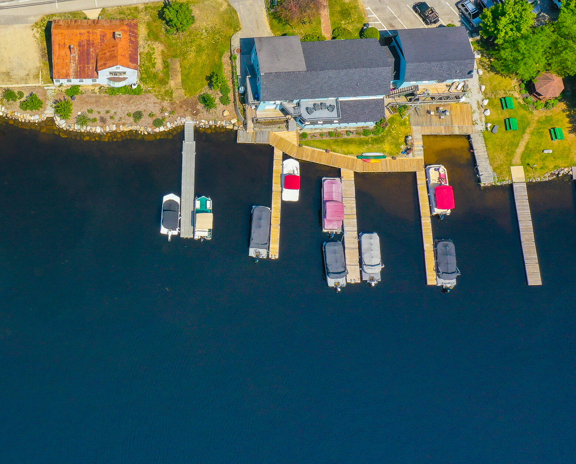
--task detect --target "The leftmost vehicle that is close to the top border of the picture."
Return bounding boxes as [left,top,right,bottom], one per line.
[409,0,437,25]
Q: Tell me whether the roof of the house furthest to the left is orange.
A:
Yes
